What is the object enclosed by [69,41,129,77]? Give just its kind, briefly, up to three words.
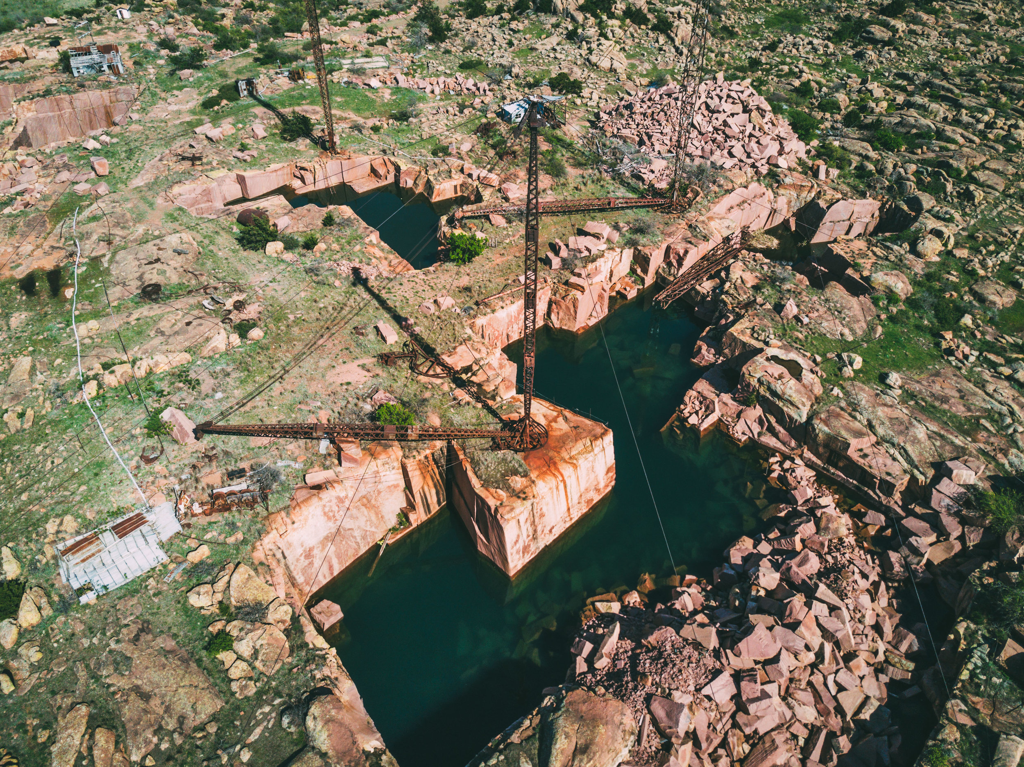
shed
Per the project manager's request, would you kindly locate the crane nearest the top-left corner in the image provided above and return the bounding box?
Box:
[303,0,343,154]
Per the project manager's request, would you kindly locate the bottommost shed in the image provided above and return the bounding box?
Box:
[55,505,167,602]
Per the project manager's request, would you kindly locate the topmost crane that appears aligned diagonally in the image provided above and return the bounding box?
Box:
[454,0,712,231]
